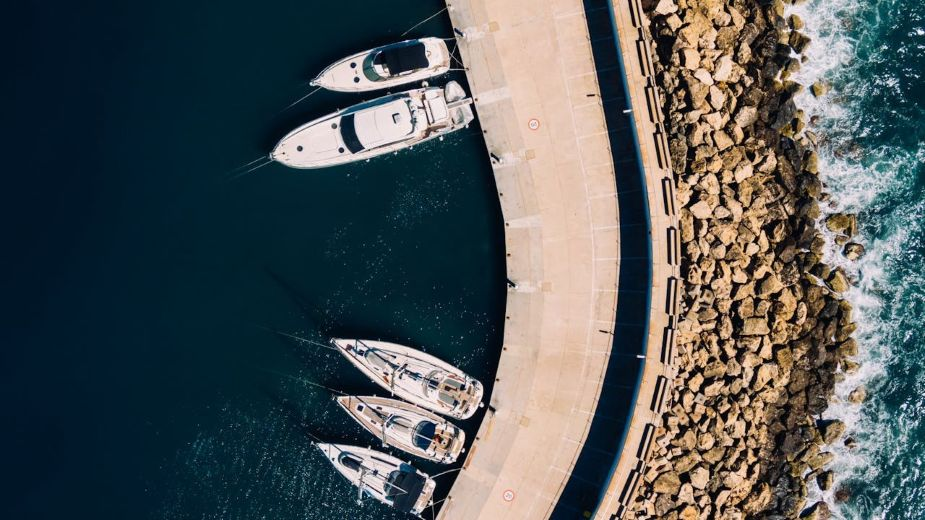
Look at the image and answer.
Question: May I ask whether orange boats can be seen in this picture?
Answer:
No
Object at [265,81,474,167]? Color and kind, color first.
white boat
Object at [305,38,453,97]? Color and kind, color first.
white boat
